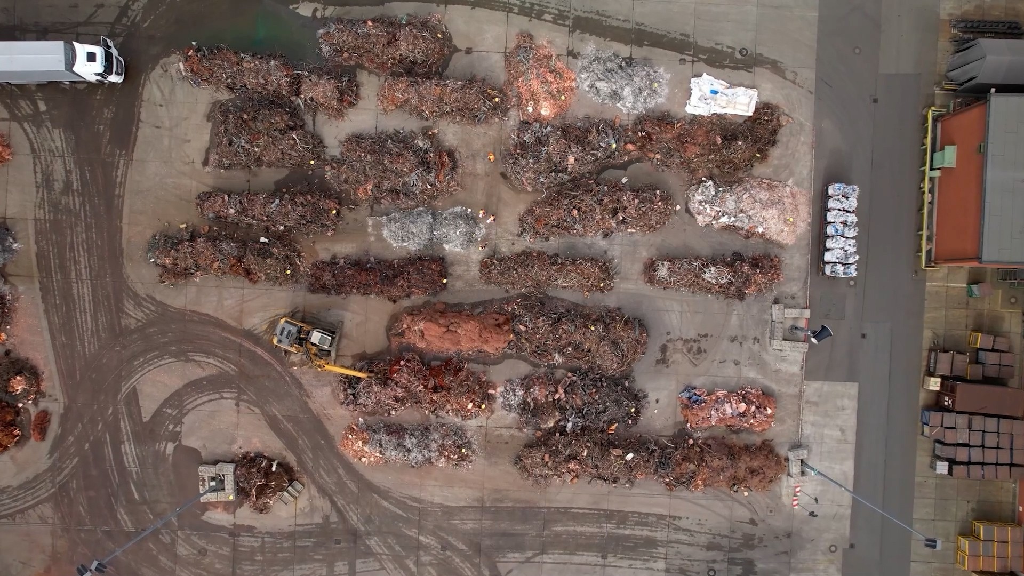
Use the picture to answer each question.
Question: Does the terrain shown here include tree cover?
No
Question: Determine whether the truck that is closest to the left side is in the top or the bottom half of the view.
top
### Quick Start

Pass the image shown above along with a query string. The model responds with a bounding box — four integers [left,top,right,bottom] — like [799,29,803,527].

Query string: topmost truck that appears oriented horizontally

[0,36,125,83]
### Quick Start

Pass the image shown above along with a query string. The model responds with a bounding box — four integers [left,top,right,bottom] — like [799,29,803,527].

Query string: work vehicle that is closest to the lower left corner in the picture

[271,313,381,386]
